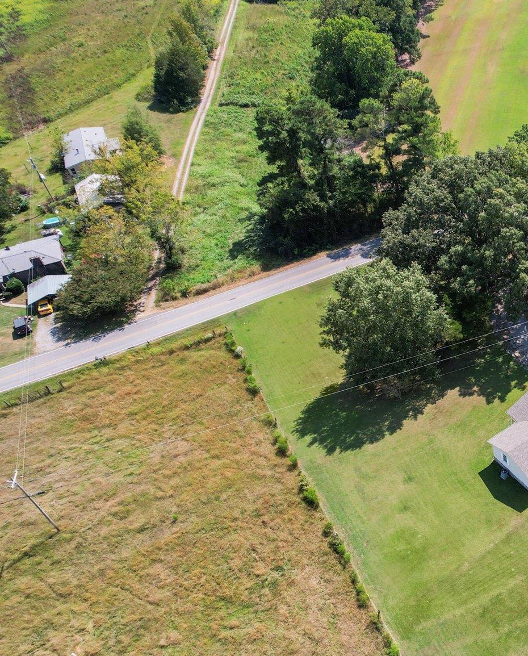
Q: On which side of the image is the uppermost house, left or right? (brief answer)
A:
left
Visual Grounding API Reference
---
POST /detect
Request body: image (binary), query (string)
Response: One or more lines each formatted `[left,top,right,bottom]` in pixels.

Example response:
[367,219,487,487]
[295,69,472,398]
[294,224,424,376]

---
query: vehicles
[35,301,52,318]
[11,316,30,333]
